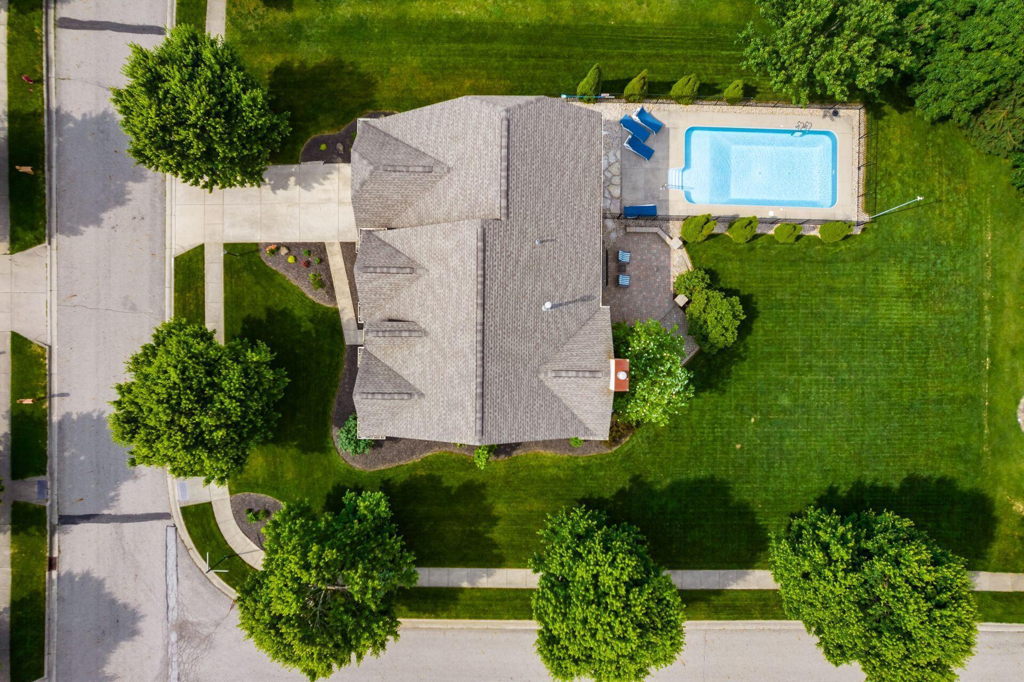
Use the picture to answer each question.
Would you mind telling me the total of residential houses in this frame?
1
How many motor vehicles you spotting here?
none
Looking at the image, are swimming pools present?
Yes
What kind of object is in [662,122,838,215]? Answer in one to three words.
swimming pool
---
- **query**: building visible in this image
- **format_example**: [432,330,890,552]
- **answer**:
[350,96,629,446]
